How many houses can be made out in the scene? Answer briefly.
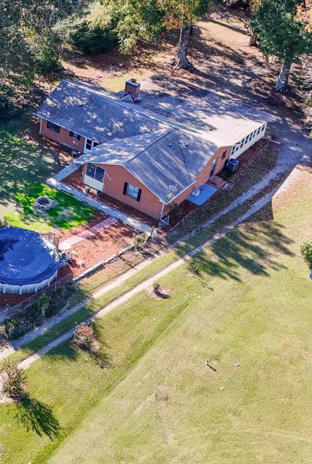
1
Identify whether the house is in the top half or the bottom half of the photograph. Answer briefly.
top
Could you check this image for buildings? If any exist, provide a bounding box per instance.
[28,76,277,221]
